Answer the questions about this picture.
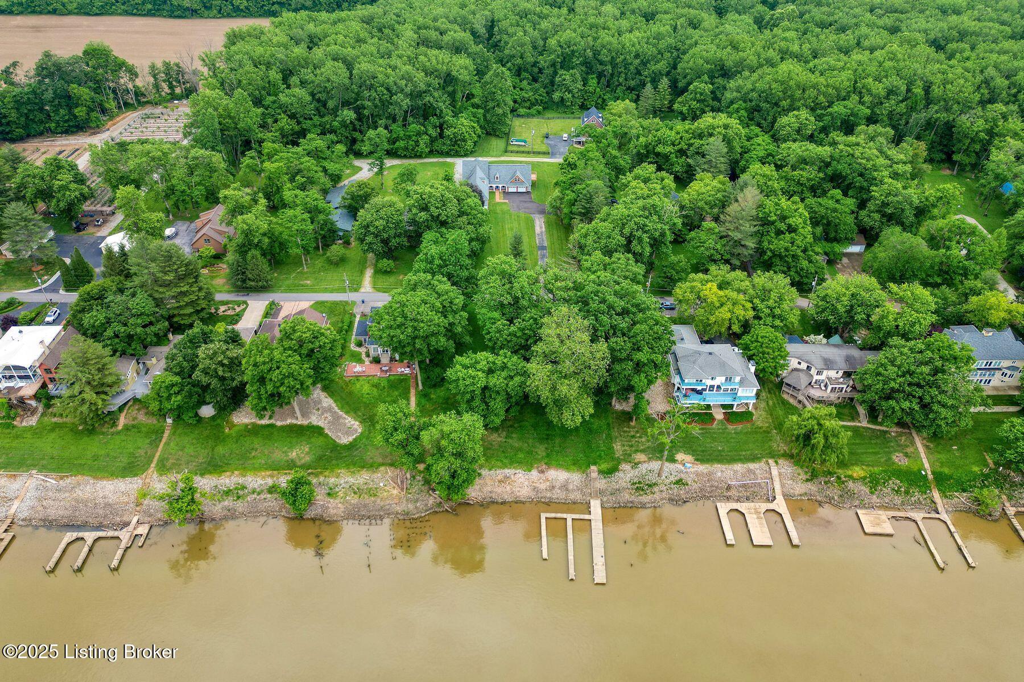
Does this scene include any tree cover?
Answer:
Yes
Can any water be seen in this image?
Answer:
Yes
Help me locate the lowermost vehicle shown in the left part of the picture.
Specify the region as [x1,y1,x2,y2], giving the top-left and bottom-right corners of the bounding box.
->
[44,309,60,323]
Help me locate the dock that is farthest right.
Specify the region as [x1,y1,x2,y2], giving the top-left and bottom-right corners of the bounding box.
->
[999,495,1024,544]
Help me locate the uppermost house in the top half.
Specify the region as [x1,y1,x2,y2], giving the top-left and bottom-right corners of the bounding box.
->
[580,109,605,142]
